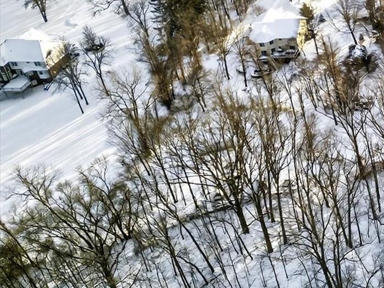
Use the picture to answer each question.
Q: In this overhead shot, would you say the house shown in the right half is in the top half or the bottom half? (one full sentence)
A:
You can find the house shown in the right half in the top half.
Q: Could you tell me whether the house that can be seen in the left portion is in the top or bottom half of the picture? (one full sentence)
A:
Seen from above, the house that can be seen in the left portion lies in the top half of the view.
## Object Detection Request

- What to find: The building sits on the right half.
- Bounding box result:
[245,9,307,67]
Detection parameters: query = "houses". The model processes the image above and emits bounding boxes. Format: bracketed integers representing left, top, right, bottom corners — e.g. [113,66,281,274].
[245,9,307,67]
[0,27,75,95]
